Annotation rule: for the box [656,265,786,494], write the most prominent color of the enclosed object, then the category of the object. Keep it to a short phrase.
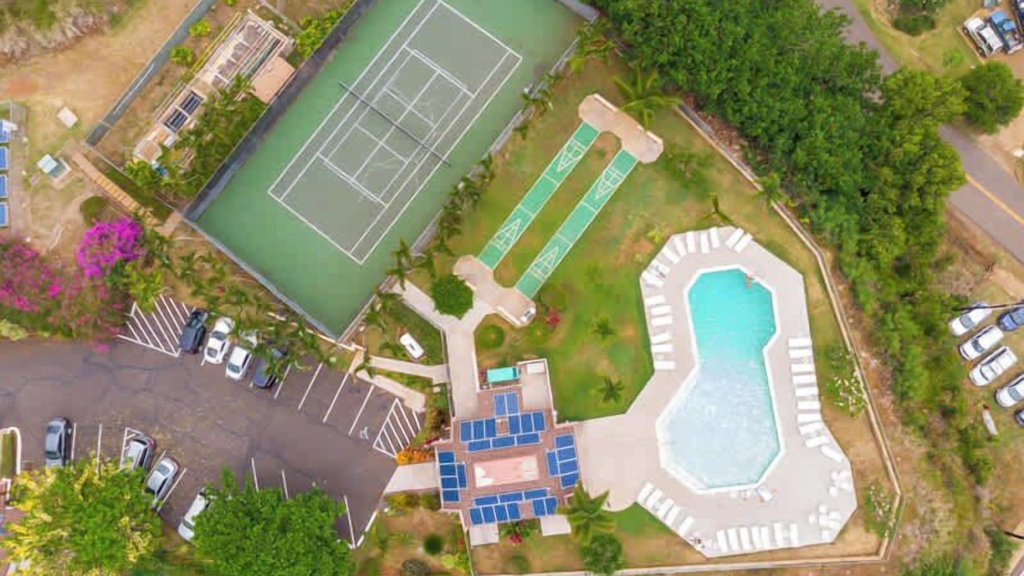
white swimming pool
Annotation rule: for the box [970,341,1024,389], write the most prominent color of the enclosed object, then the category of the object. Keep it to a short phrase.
white vehicle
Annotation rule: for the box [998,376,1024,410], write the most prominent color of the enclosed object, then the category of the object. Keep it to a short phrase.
white car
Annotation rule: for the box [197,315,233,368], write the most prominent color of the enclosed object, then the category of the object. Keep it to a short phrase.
white car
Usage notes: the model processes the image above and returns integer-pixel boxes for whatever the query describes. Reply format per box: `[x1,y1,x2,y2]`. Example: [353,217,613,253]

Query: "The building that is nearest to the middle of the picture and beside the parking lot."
[434,385,583,530]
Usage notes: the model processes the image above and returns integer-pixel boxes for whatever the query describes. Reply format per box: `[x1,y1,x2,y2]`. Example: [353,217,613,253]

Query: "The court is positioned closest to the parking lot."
[198,0,584,335]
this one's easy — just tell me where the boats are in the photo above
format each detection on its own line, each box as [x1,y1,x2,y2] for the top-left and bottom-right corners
[985,406,997,435]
